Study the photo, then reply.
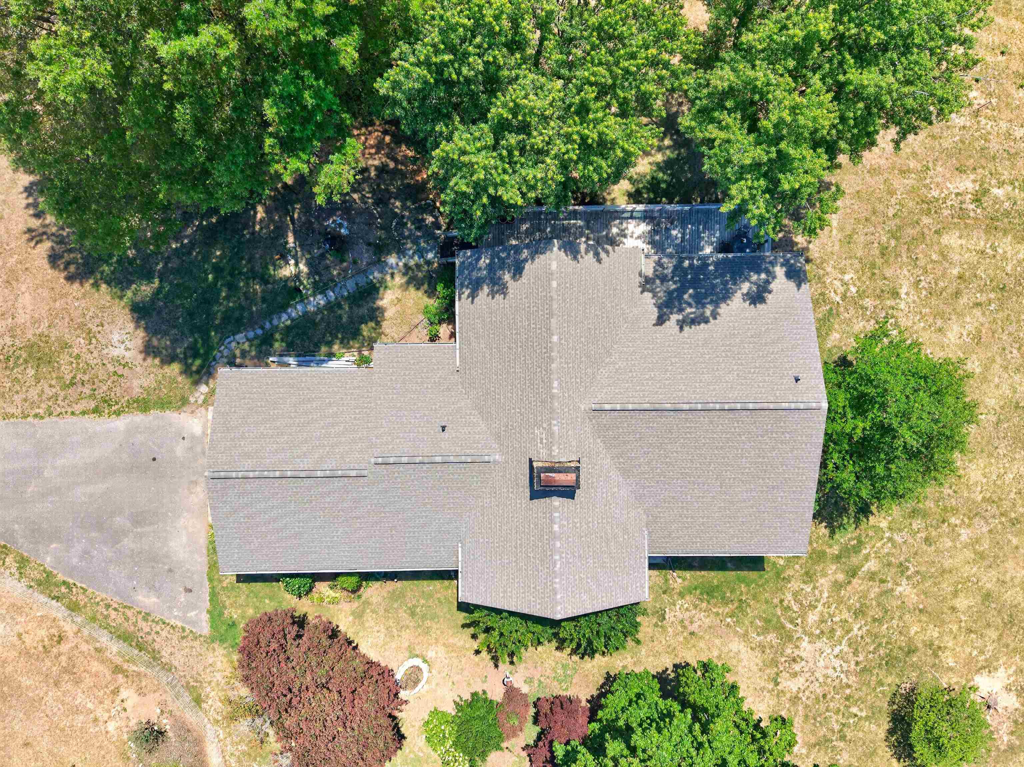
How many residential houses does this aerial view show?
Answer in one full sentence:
I count 1 residential house.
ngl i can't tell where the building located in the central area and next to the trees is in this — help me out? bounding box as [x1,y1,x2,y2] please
[206,238,829,619]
